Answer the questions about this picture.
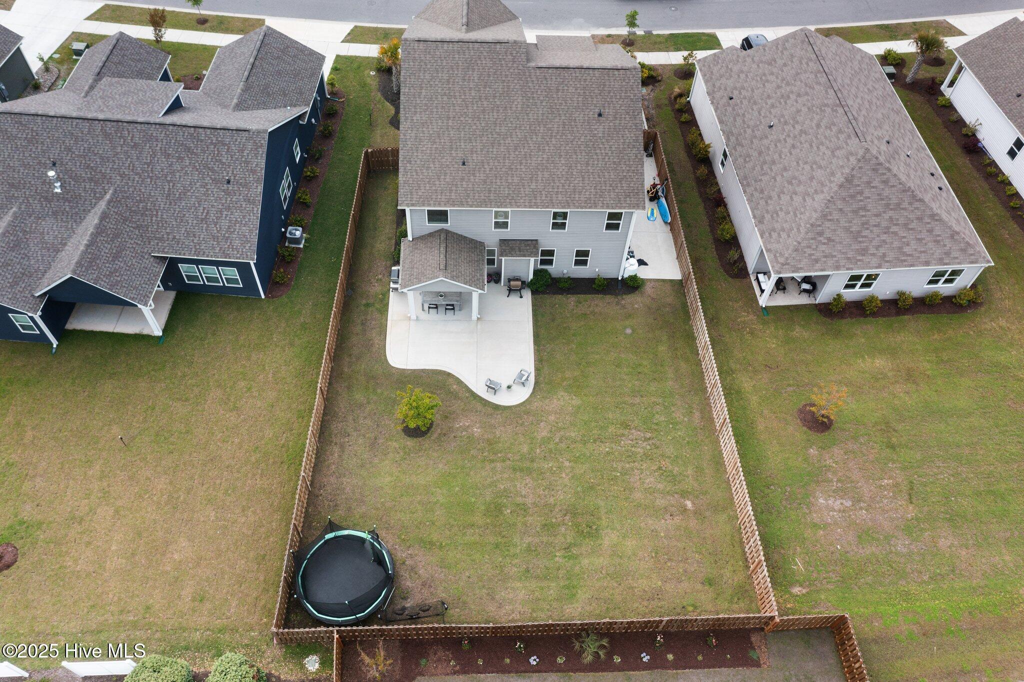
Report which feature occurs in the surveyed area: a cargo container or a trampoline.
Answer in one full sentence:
The image shows a trampoline.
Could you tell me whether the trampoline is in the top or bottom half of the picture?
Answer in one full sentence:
It is in the bottom half that the trampoline appears.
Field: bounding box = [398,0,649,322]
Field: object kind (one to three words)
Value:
house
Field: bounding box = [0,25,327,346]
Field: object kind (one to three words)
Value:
house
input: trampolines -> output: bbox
[290,516,394,628]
